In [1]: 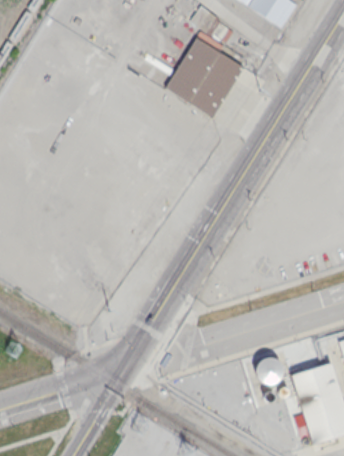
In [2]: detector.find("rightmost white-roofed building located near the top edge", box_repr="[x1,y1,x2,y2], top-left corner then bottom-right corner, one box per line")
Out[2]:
[248,0,297,28]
